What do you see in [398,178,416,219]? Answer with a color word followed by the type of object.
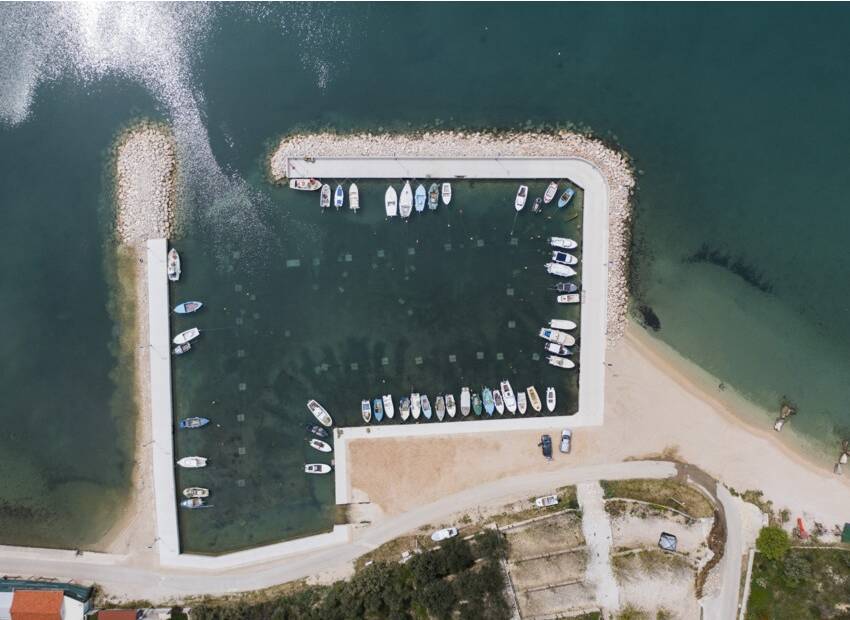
white boat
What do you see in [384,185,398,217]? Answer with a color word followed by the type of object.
white boat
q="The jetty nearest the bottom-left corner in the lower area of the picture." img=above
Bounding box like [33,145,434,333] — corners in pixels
[148,239,351,569]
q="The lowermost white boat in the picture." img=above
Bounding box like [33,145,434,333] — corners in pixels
[432,526,460,539]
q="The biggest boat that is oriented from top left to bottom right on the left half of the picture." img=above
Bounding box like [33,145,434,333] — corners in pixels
[306,399,332,427]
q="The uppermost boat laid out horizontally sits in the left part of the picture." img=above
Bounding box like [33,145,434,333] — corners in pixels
[290,178,326,191]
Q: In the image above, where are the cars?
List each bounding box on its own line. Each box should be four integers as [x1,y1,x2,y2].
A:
[559,430,573,453]
[535,435,552,457]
